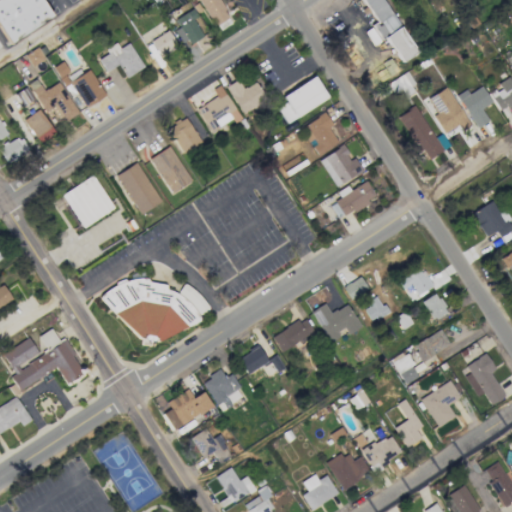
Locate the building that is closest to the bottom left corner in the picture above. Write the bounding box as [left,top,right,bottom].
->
[0,398,30,435]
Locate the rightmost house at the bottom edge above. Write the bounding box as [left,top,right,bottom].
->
[484,462,512,505]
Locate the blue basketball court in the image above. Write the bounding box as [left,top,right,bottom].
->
[94,432,163,510]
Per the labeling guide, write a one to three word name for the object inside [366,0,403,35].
building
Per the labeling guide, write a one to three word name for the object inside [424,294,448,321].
house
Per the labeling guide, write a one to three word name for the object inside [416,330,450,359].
shed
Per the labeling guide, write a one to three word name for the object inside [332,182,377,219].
house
